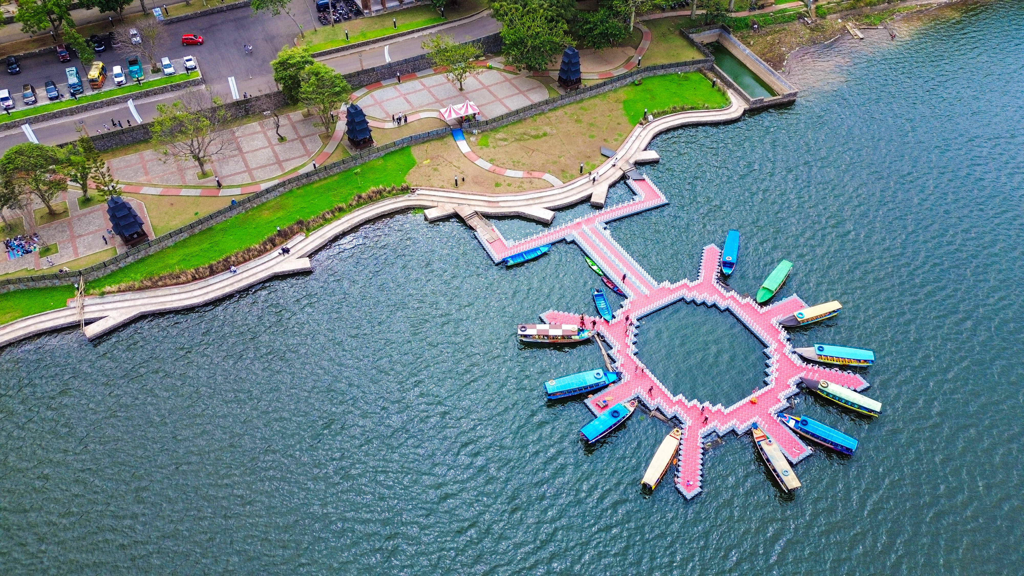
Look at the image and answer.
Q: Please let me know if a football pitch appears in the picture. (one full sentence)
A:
No, the photo shows no football pitch.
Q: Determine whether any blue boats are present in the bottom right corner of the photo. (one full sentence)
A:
Yes, in the bottom right corner of the photo there is a blue boat.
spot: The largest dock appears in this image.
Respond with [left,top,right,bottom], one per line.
[471,169,869,498]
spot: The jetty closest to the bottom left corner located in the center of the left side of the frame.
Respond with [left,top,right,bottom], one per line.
[85,316,141,346]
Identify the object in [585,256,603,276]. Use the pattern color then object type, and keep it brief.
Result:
green boat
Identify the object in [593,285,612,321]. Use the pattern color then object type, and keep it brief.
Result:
blue boat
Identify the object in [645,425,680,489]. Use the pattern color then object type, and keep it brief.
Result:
white boat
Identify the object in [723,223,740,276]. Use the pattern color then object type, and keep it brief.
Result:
blue boat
